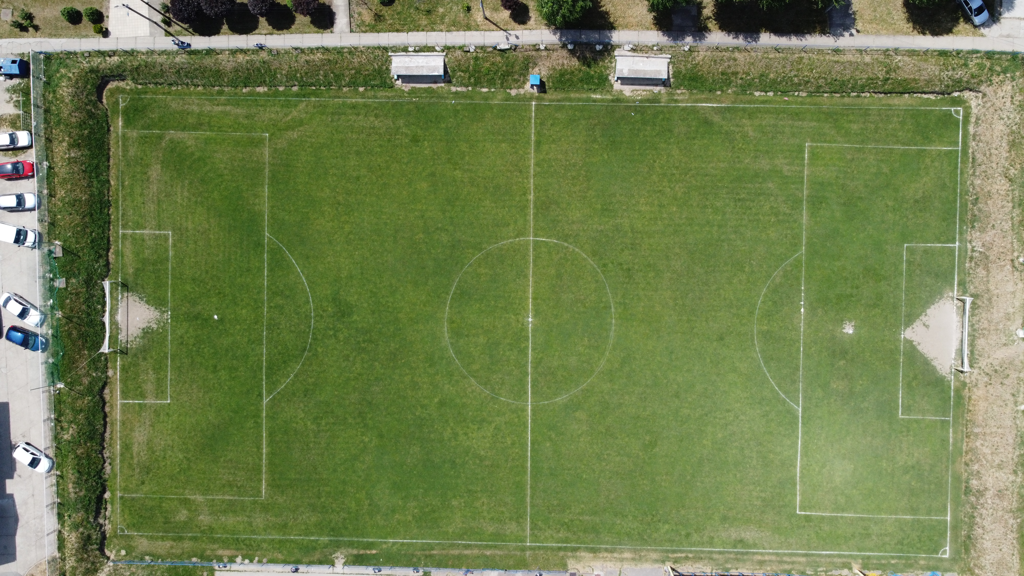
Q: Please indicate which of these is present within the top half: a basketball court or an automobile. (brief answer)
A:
automobile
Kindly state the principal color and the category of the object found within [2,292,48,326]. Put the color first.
white car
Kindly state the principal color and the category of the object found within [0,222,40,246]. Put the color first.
white car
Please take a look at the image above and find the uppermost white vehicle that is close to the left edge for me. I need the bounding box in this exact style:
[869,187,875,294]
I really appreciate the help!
[0,129,35,151]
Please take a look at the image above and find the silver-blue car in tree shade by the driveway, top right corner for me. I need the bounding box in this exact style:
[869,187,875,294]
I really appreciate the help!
[954,0,987,26]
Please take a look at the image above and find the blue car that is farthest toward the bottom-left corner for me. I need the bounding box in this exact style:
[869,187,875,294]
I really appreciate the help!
[6,325,50,351]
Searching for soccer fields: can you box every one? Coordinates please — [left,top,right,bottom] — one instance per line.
[110,82,972,566]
